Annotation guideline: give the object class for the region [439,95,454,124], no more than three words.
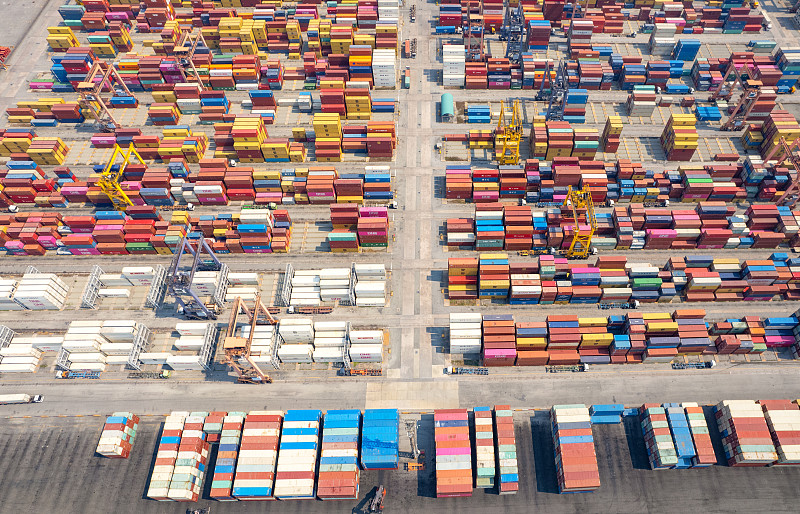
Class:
shed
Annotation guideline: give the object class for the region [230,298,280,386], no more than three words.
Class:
container crane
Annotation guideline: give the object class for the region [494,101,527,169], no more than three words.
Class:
container crane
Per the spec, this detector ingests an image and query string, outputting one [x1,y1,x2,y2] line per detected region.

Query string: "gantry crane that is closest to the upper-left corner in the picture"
[76,66,130,134]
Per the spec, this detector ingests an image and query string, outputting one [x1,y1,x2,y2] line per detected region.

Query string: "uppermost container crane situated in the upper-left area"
[175,34,209,91]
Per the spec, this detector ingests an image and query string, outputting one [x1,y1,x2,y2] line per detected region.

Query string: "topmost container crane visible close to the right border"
[706,64,766,129]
